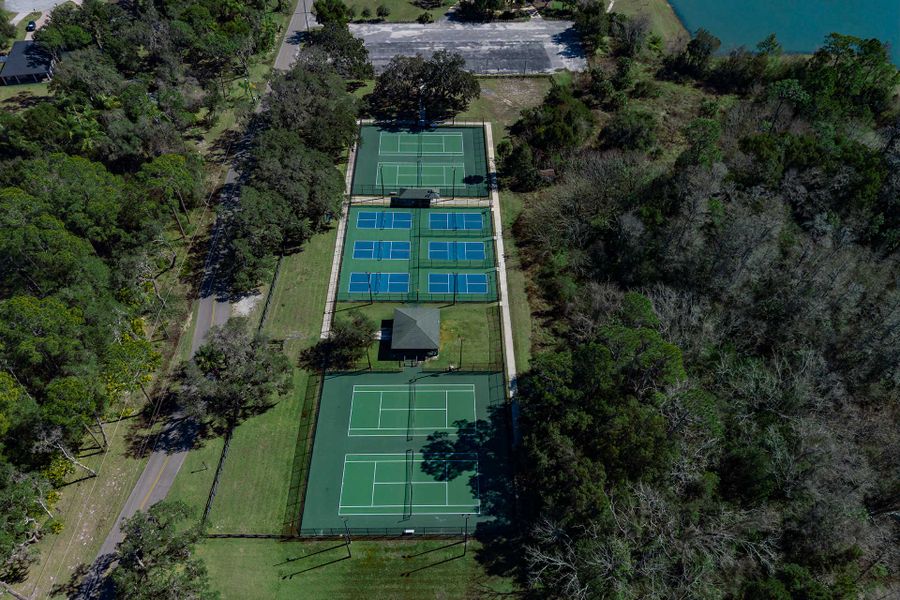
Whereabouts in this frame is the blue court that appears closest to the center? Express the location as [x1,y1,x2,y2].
[429,273,489,293]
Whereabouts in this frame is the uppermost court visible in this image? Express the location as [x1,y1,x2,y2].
[379,133,463,155]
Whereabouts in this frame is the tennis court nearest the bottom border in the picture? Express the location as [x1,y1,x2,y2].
[338,448,481,519]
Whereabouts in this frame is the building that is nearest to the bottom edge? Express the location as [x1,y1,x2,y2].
[392,308,439,356]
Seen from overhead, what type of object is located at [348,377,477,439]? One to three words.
tennis court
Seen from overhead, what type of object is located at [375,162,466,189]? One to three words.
tennis court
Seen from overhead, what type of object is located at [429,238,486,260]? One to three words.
sports court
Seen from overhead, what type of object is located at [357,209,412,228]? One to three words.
sports court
